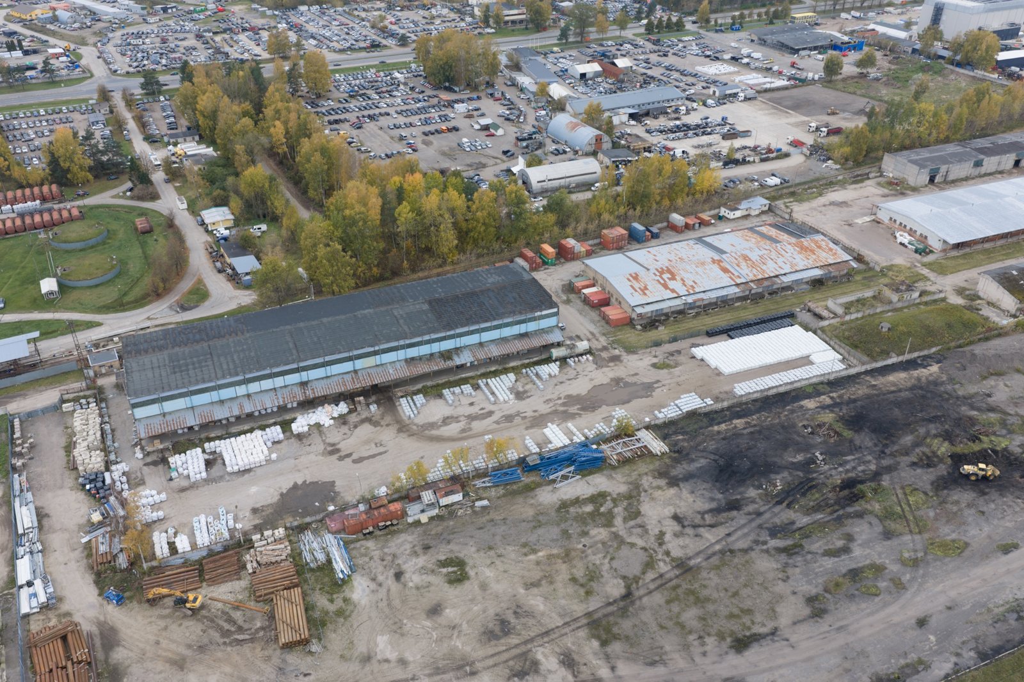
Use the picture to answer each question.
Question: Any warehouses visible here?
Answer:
Yes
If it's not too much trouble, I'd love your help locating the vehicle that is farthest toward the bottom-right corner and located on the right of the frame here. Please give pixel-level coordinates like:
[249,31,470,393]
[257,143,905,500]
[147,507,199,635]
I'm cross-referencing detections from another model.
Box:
[956,462,1003,484]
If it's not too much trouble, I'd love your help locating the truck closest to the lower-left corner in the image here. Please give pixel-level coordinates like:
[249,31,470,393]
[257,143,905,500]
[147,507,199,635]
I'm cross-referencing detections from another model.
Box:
[102,584,126,609]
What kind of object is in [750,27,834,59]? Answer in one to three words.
building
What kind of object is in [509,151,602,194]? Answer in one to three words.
shed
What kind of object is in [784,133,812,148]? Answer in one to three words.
vehicle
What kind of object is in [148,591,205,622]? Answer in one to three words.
work vehicle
